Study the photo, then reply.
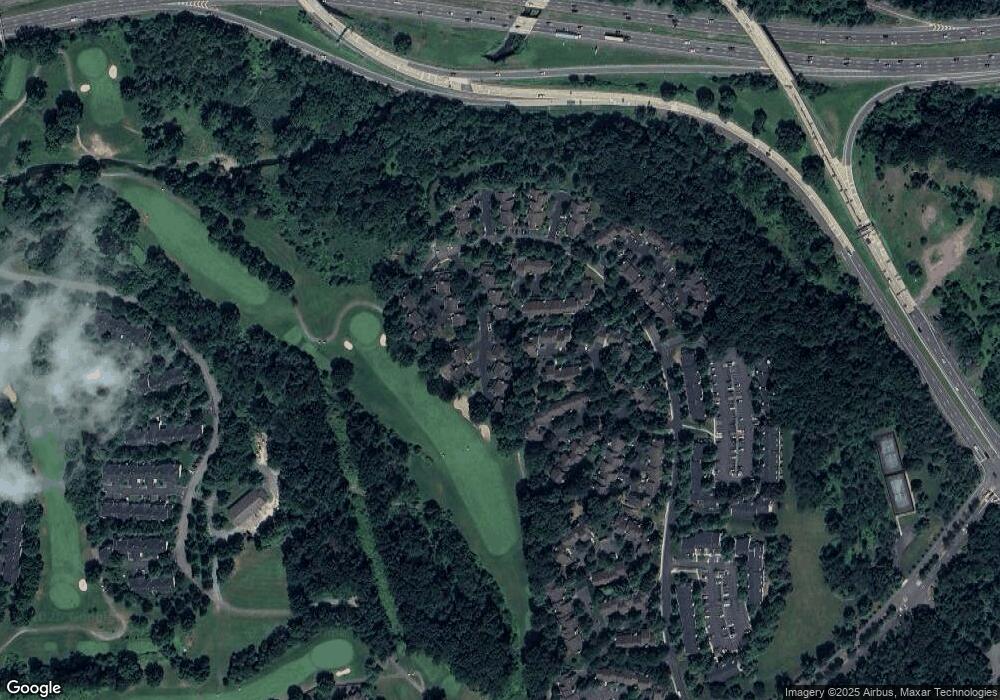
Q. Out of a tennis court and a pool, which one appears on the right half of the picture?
tennis court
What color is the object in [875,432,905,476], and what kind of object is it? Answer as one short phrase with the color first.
gray tennis court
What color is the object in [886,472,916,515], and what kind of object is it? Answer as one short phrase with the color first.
gray tennis court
